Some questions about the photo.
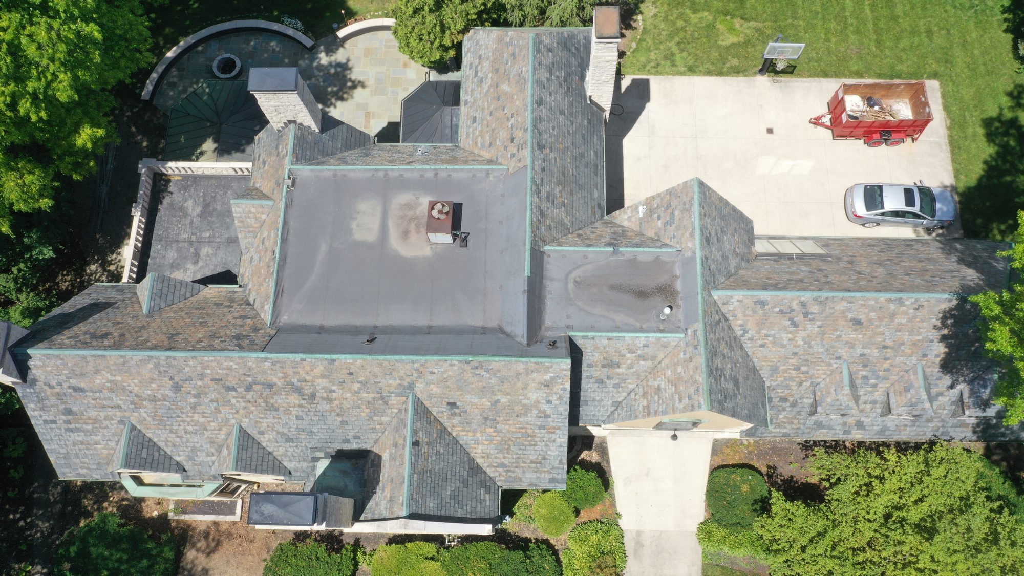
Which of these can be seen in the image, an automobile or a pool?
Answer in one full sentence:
Looking from above, you can make out an automobile.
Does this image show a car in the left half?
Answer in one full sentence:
No, no car appears in the left half.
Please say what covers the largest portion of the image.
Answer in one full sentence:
For the most part, this view shows buildings.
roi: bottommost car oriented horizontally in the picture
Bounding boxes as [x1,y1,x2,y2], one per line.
[843,180,959,233]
